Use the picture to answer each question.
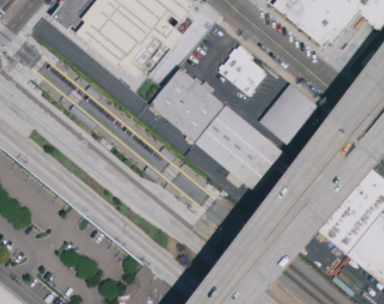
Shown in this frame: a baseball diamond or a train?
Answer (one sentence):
The one in the frame is a train.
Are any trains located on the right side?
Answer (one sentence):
No, no train can be made out on the right side.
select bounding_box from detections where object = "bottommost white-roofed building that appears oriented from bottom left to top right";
[318,170,384,252]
